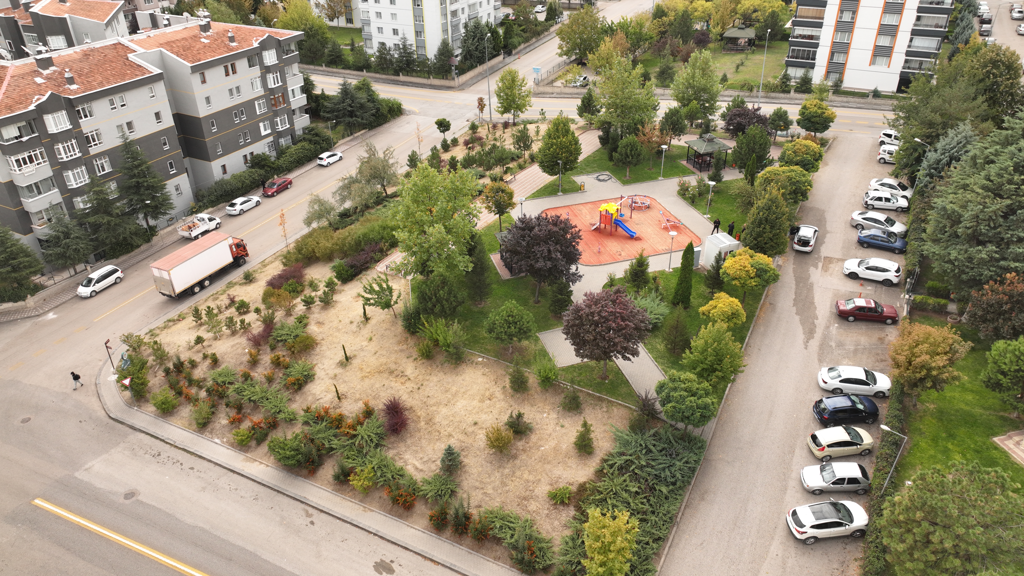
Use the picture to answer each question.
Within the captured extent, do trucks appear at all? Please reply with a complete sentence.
Yes, there's a truck here.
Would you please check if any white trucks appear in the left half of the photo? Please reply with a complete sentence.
Yes, looking in the left half of the photo, one can make out a white truck.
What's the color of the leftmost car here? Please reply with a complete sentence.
From above, the leftmost car appears white.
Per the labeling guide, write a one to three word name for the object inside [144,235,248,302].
truck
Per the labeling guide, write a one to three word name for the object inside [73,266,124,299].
car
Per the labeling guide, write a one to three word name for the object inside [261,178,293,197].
car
